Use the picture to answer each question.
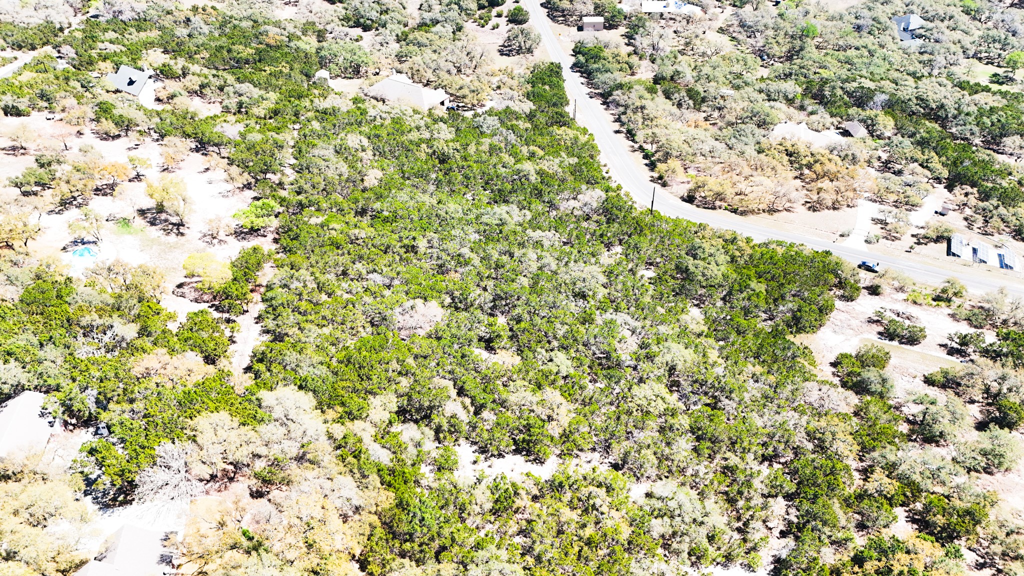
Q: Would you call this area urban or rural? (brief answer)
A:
rural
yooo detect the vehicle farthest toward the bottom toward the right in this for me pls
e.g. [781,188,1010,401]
[856,263,881,275]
